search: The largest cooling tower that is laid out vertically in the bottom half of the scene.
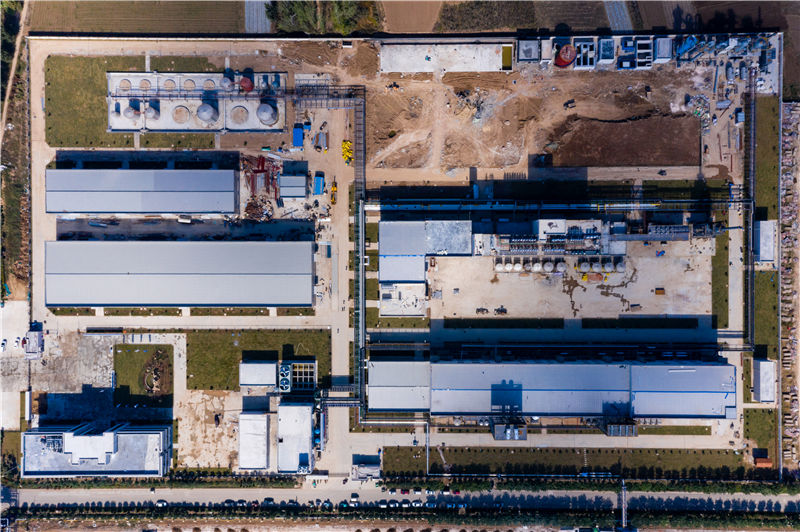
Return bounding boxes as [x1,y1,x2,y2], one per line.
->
[279,363,292,391]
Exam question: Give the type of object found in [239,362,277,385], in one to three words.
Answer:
building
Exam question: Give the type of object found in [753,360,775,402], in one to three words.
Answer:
shed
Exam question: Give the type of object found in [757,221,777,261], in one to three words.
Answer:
shed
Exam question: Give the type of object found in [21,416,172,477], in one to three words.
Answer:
building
